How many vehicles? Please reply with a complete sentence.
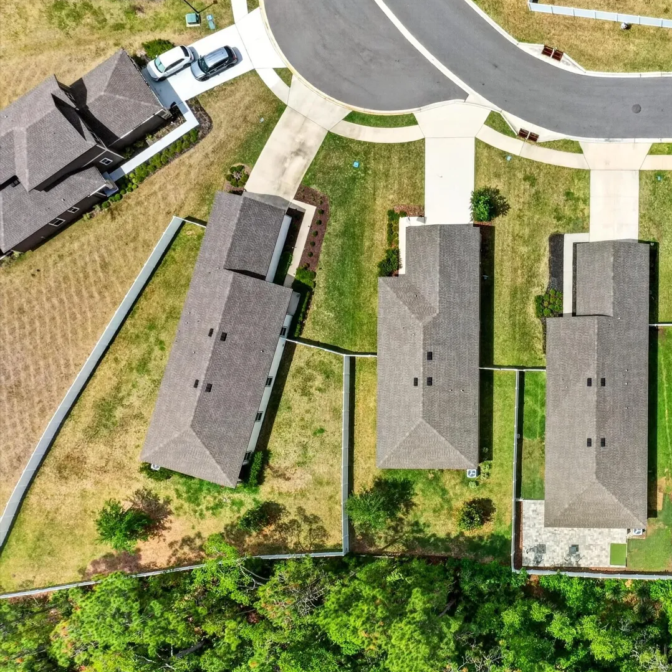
The picture shows 2 vehicles.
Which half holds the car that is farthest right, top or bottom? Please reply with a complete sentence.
The car that is farthest right is in the top half of the image.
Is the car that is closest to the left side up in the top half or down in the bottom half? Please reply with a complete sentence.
The car that is closest to the left side is in the top half of the image.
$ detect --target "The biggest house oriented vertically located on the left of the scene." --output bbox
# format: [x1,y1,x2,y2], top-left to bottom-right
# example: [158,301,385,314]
[140,190,300,489]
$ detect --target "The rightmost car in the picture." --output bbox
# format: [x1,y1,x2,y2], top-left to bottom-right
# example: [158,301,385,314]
[192,44,240,83]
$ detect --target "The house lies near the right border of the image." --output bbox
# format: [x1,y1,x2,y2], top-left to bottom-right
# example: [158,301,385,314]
[545,241,649,529]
